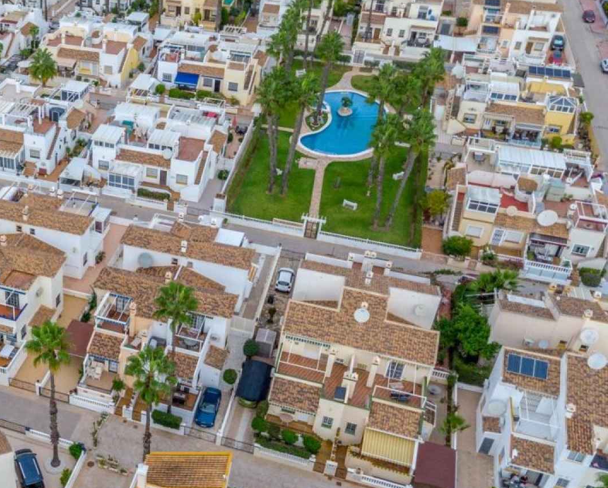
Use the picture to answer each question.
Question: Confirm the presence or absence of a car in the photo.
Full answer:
Yes, you can see a car in this photo.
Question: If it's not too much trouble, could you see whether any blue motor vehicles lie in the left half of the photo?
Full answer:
Yes, a blue motor vehicle is visible in the left half of the photo.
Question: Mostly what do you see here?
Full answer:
The bulk of the photo consists of buildings.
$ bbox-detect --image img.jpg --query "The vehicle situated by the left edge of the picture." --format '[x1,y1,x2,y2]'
[17,452,46,488]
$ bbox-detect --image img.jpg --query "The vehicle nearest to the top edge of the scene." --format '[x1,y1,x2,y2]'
[583,6,597,19]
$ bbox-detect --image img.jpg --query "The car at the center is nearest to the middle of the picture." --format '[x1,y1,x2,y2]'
[276,264,296,292]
